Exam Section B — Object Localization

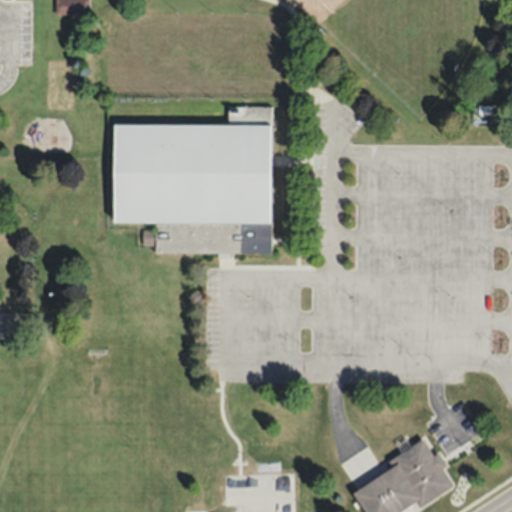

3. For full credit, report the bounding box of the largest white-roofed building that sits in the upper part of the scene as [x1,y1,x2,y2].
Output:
[113,108,273,254]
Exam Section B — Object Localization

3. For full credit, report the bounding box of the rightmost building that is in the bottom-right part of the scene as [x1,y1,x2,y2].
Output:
[355,439,458,512]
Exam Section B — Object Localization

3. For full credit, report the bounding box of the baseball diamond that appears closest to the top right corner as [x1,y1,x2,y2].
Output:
[300,0,478,119]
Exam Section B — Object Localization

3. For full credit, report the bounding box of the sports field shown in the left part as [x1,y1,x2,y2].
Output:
[106,11,288,98]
